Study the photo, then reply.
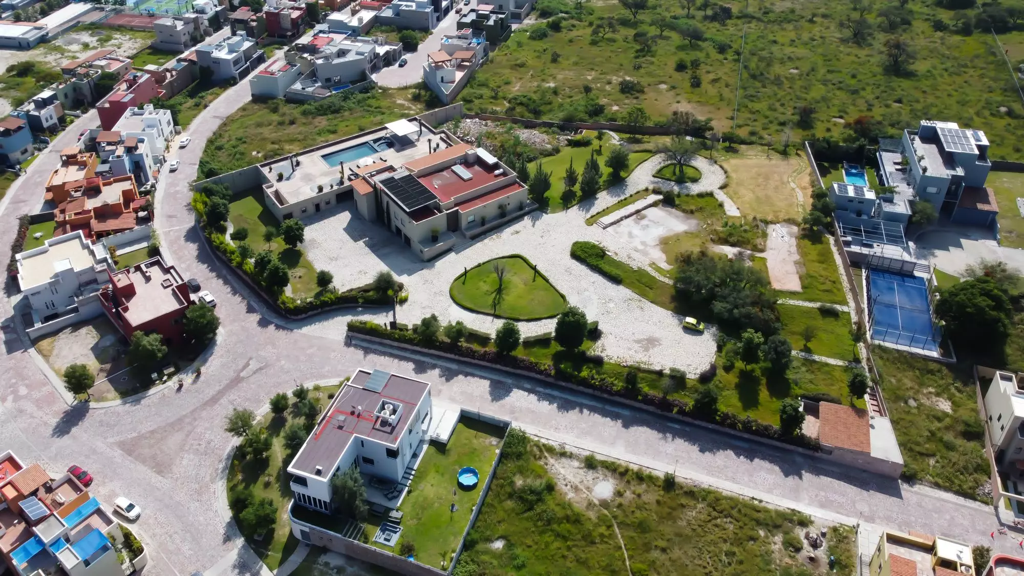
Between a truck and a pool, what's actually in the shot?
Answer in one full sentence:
The image shows a pool.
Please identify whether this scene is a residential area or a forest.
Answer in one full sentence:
The area seen from above is a residential area.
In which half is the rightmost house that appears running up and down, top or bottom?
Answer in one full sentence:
The rightmost house that appears running up and down is in the bottom half of the image.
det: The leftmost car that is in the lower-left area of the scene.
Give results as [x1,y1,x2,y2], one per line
[63,460,94,485]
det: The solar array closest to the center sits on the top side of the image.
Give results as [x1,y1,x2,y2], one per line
[380,172,438,211]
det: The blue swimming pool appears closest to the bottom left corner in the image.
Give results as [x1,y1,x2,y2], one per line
[456,467,481,492]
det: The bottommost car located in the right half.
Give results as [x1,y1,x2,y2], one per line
[682,311,706,329]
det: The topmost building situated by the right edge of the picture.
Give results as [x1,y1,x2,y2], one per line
[830,118,999,232]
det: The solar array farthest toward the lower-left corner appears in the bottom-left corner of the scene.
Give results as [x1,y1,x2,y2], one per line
[18,497,50,520]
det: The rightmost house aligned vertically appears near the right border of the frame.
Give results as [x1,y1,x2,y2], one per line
[975,371,1024,488]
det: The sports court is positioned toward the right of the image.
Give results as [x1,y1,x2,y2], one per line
[869,267,939,354]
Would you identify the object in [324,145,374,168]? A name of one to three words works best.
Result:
swimming pool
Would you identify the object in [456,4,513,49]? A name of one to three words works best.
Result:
building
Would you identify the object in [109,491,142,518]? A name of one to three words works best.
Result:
car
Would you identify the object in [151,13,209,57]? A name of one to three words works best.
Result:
house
